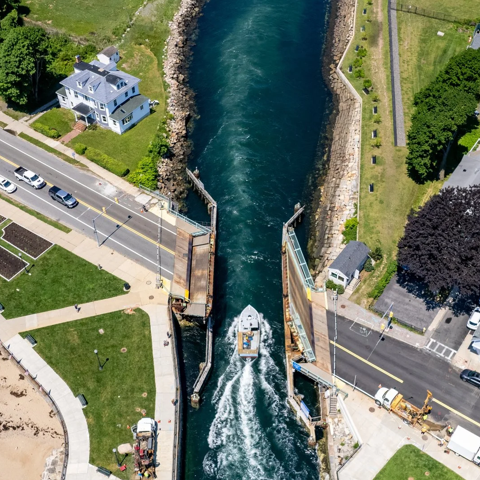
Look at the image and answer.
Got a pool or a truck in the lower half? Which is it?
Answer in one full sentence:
You can see a truck in the lower half.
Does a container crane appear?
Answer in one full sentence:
No, the picture doesn't show any container crane.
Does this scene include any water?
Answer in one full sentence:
Yes, the picture does contain water.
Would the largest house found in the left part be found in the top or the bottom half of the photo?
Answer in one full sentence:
The largest house found in the left part sits in the top half of the picture.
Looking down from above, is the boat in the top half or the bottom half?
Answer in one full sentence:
Seen from above, the boat lies in the bottom half of the view.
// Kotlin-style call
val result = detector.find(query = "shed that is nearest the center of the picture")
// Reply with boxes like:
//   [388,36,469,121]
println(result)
[327,242,372,301]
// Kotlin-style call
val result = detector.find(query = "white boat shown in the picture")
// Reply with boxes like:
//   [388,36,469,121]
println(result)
[237,303,260,358]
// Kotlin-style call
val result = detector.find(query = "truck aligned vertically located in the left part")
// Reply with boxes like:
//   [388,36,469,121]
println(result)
[132,418,156,472]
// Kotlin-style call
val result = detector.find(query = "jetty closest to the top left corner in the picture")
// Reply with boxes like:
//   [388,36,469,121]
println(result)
[184,165,219,232]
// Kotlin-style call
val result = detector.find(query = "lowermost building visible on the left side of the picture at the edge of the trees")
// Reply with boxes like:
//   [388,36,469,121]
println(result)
[56,58,149,134]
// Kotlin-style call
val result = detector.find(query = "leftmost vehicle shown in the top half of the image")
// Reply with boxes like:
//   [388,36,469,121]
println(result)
[0,177,16,192]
